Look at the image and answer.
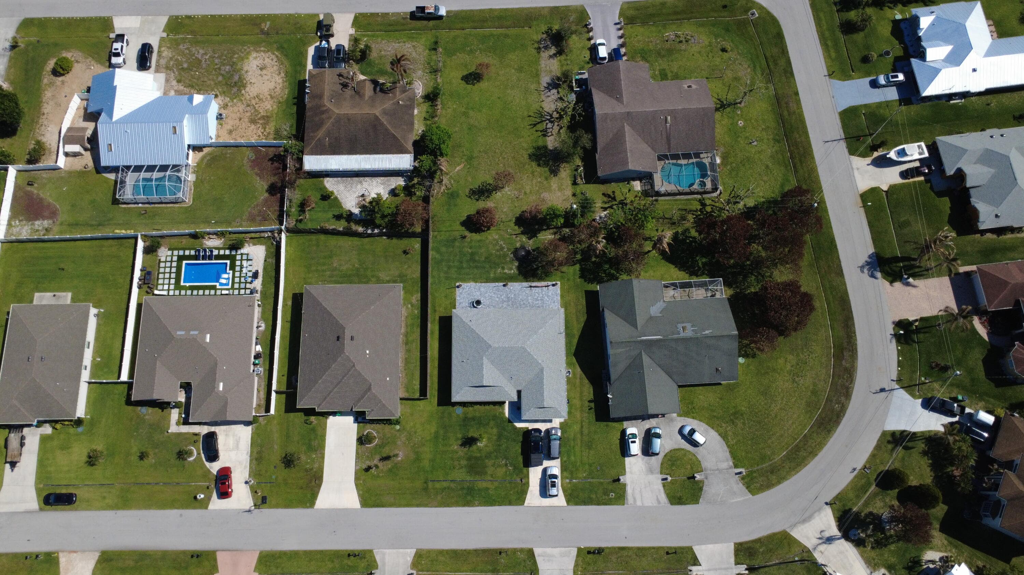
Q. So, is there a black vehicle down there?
Yes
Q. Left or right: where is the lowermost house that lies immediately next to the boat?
right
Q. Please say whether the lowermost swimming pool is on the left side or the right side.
left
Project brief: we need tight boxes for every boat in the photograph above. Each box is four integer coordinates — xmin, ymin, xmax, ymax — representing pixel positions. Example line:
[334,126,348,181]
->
[879,143,932,162]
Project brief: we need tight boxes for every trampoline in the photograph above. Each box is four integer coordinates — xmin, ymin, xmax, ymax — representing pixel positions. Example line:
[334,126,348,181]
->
[513,243,532,261]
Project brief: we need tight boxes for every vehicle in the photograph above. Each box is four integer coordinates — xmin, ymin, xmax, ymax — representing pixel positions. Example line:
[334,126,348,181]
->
[545,466,560,498]
[44,492,78,508]
[333,44,346,68]
[215,466,233,500]
[625,426,640,457]
[902,164,934,180]
[547,427,562,459]
[925,395,966,421]
[322,11,336,37]
[612,45,624,62]
[596,40,609,64]
[529,429,545,468]
[317,40,332,68]
[109,34,131,67]
[138,44,154,69]
[678,424,709,449]
[875,73,905,88]
[415,4,446,18]
[649,425,664,456]
[203,431,220,464]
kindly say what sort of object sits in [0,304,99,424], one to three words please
house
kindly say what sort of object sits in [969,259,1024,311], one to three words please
house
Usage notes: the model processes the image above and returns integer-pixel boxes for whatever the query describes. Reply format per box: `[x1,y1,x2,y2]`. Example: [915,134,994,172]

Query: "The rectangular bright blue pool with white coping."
[181,260,232,288]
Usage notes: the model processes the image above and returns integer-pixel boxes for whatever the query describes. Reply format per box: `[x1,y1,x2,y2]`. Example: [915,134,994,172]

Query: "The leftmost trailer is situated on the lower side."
[4,425,26,474]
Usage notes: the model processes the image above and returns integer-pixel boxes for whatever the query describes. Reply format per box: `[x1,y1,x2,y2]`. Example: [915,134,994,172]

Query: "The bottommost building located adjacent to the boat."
[929,126,1024,232]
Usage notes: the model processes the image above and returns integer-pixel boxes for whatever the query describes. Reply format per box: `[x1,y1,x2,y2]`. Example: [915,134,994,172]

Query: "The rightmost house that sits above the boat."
[905,0,1024,102]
